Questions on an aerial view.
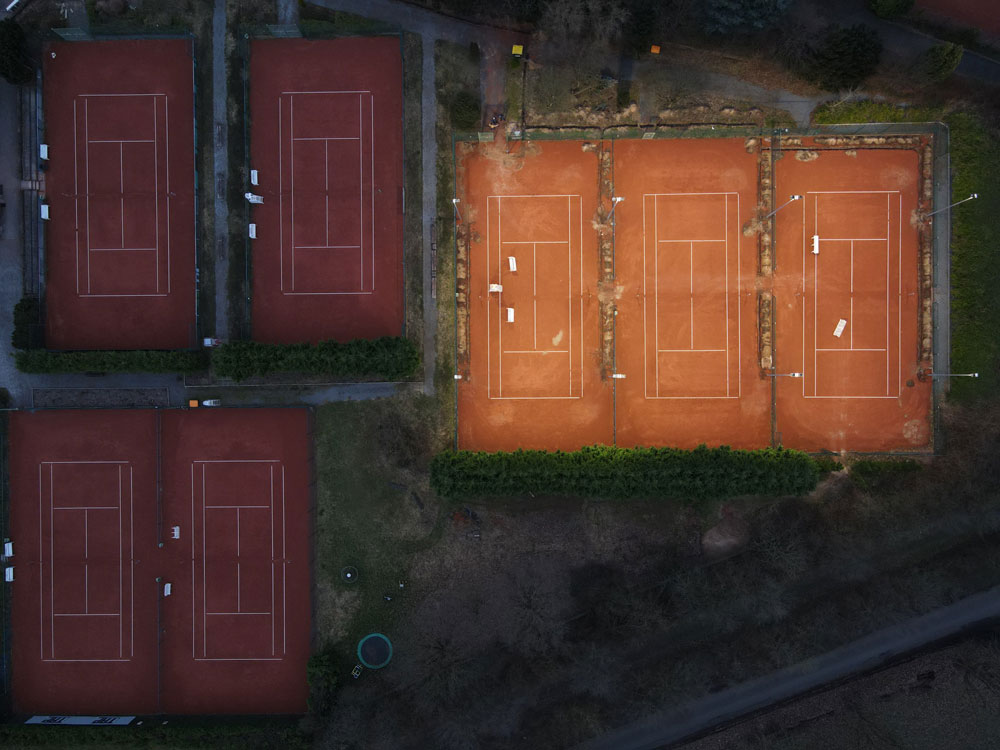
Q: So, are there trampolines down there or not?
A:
Yes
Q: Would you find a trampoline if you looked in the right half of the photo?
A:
No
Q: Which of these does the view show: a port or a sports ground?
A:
sports ground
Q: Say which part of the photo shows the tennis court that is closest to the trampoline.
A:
bottom left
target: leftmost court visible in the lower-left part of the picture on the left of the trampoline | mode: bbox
[9,409,160,714]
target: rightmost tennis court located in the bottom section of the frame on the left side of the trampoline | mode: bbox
[160,408,310,714]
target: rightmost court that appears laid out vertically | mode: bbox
[776,150,920,452]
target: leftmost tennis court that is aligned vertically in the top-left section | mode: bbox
[42,39,197,350]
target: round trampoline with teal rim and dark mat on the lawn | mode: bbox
[356,634,392,669]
